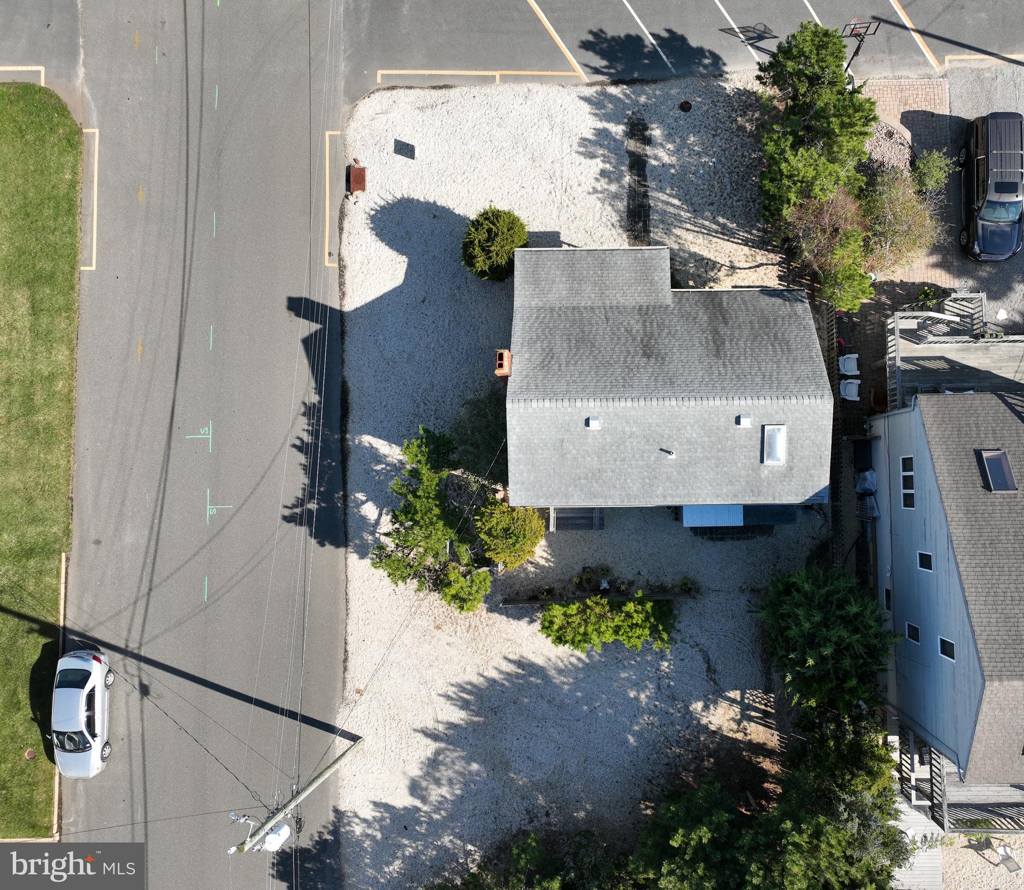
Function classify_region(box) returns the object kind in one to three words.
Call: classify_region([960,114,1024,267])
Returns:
car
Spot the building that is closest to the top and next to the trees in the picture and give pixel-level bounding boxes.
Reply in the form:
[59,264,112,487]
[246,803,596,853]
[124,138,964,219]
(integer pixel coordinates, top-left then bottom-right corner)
[496,245,834,507]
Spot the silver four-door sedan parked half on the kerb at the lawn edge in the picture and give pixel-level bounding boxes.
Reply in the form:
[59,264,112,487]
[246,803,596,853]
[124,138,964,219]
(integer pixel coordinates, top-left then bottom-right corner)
[43,647,117,777]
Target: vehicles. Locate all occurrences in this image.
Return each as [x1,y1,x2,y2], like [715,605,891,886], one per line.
[43,647,117,777]
[960,114,1024,267]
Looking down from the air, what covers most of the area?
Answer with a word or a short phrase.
paved ground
